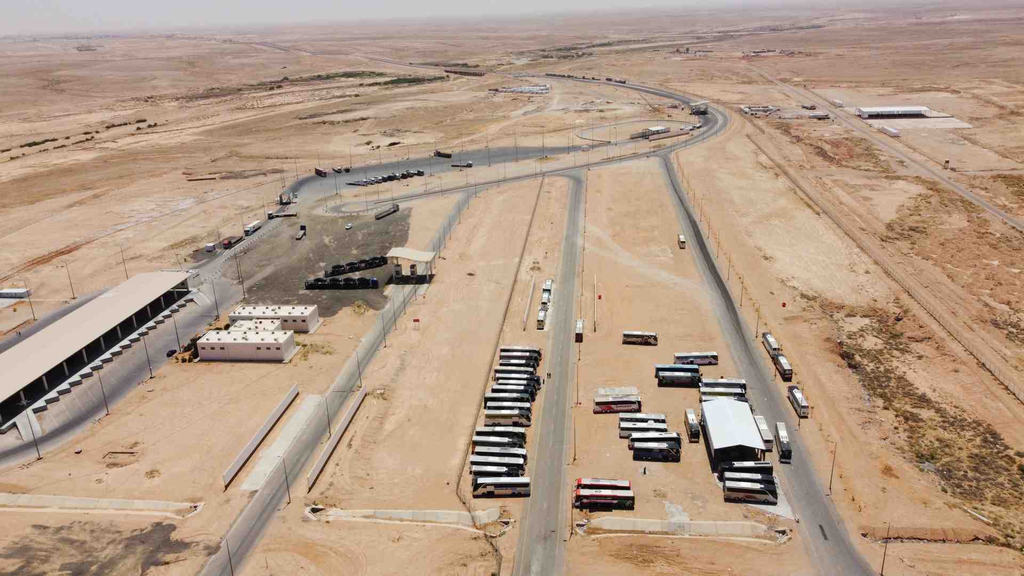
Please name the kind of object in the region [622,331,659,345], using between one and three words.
vehicle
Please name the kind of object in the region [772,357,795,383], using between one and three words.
bus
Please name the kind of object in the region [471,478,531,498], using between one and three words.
bus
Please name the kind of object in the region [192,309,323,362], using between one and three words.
building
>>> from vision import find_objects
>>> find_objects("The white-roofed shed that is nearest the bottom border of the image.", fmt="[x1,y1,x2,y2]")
[699,398,769,472]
